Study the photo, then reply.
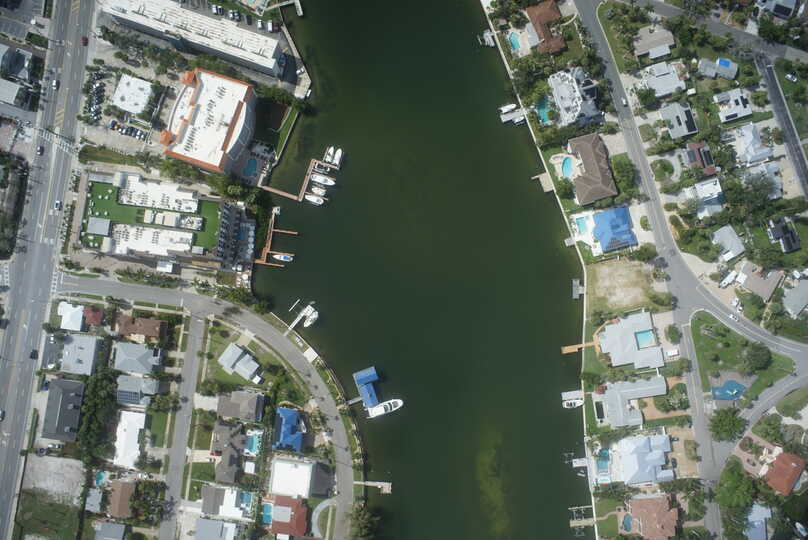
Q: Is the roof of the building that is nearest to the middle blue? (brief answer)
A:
Yes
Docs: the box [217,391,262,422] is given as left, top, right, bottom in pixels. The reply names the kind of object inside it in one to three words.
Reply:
house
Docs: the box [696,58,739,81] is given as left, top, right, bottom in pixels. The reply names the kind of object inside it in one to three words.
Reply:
house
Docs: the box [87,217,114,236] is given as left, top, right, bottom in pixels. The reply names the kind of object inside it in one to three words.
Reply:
building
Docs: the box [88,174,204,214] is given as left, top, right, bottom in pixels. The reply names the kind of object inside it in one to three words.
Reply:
building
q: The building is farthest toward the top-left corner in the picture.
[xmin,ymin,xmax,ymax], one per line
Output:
[0,43,37,83]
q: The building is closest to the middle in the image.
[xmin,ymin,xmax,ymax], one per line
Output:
[351,367,379,407]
